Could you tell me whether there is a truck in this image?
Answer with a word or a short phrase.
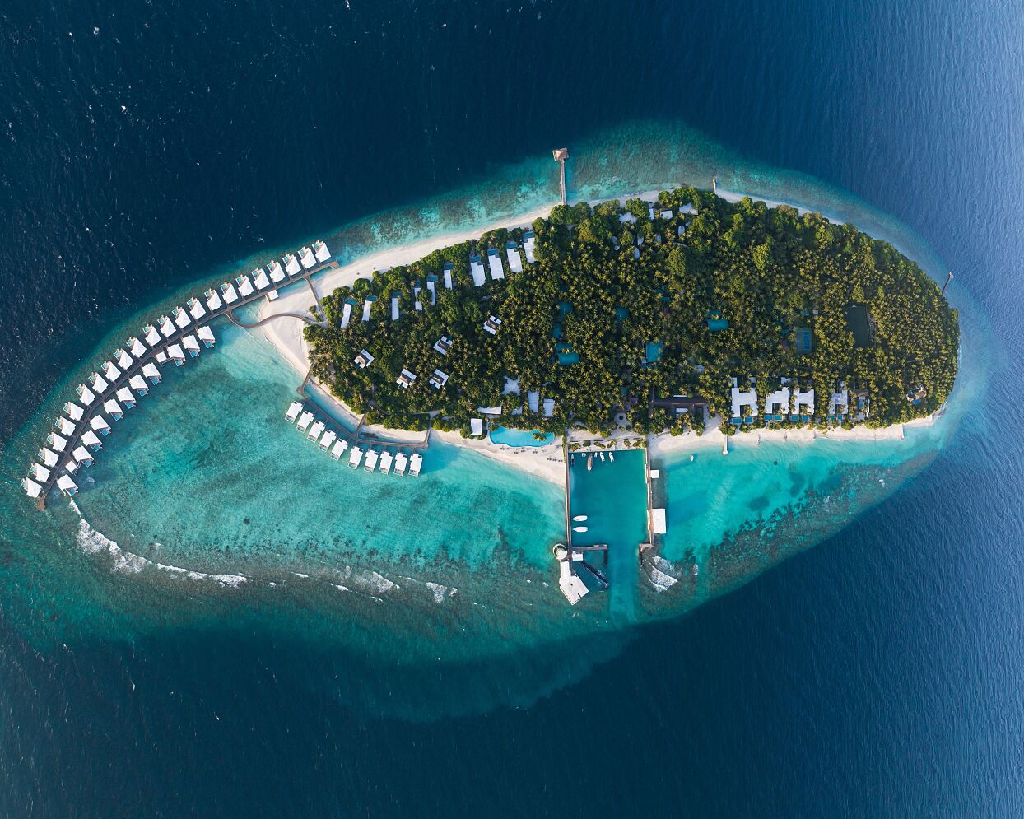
No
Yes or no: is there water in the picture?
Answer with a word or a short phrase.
Yes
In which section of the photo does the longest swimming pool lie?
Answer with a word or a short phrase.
center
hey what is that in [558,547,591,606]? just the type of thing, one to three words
building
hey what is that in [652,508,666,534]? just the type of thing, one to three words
building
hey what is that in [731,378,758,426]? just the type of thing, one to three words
house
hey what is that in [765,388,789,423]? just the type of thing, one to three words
house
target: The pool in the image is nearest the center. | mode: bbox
[489,424,555,447]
